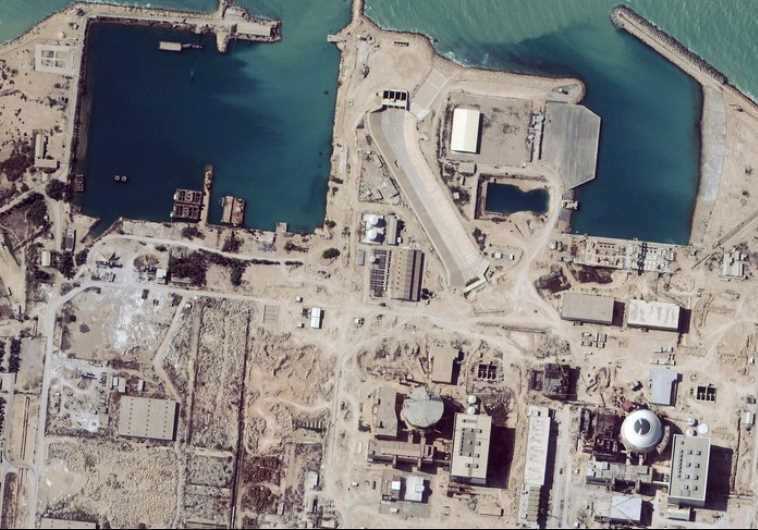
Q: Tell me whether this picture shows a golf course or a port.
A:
port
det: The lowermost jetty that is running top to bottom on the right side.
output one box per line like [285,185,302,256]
[560,190,578,235]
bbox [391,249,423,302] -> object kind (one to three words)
building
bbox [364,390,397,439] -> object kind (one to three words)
building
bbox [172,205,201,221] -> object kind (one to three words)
ship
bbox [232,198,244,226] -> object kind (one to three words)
ship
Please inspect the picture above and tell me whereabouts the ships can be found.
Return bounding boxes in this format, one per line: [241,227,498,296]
[232,198,244,226]
[172,205,201,221]
[175,189,203,204]
[158,41,181,50]
[221,196,232,224]
[74,175,84,192]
